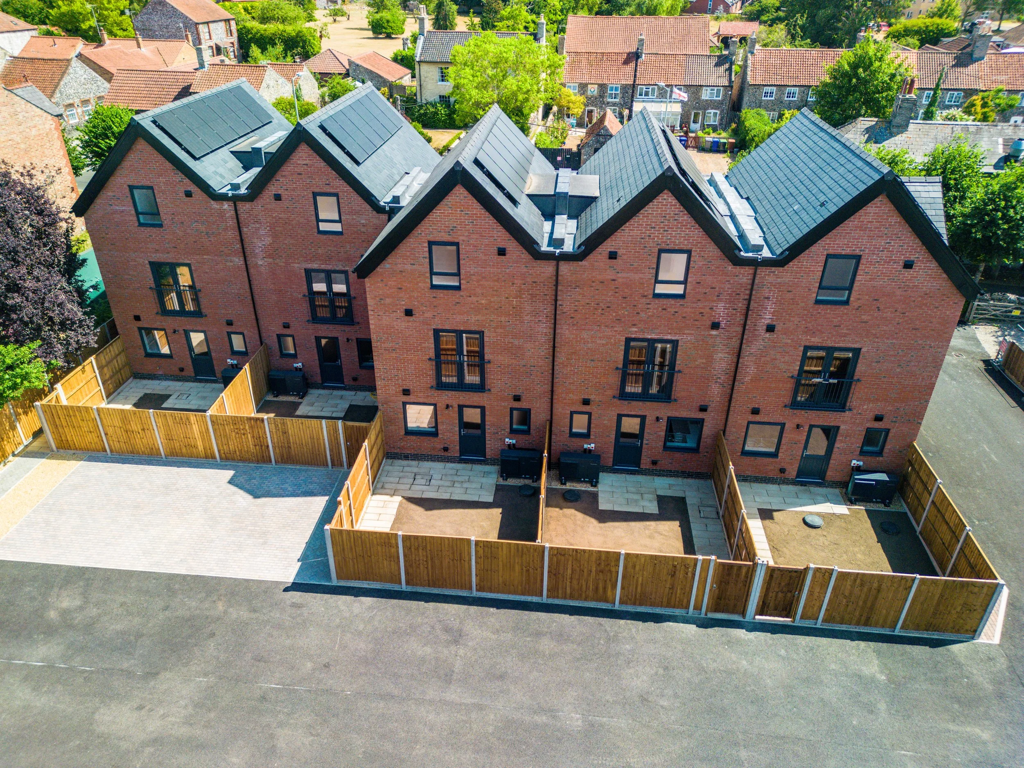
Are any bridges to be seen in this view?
No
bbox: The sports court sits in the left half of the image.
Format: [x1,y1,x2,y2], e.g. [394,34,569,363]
[34,254,111,351]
